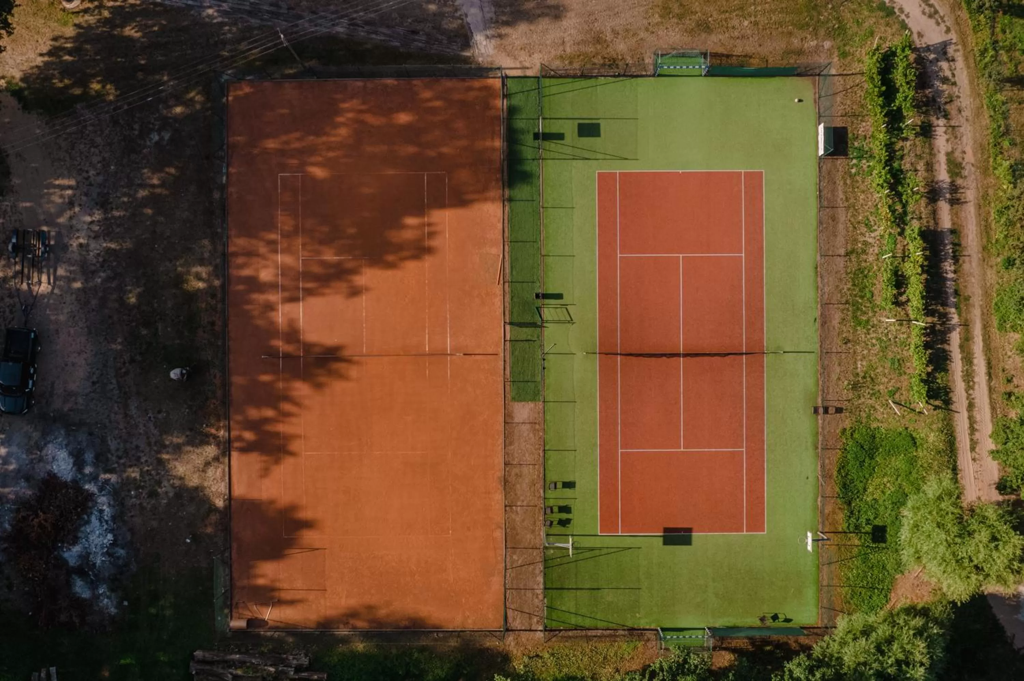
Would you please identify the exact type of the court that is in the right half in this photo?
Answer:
tennis court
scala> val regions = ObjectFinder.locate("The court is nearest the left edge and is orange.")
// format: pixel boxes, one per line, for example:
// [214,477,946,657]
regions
[225,76,504,632]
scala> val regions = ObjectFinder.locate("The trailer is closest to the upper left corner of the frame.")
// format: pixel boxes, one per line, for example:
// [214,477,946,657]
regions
[7,228,48,330]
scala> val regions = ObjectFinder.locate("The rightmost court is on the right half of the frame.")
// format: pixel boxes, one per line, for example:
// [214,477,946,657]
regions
[540,76,822,629]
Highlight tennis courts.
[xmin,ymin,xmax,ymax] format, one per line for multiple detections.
[225,76,504,632]
[540,76,822,629]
